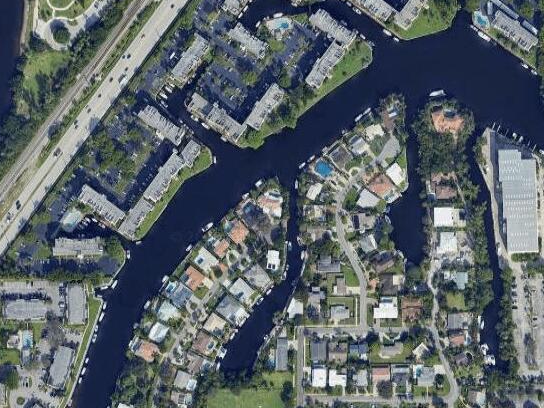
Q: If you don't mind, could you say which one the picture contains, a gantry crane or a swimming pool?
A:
swimming pool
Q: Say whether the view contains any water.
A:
Yes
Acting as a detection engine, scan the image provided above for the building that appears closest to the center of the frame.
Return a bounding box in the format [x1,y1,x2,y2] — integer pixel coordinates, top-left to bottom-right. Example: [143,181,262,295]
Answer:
[258,193,286,216]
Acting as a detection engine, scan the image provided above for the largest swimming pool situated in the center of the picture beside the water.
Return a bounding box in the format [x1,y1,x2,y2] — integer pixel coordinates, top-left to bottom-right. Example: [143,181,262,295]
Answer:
[304,154,340,184]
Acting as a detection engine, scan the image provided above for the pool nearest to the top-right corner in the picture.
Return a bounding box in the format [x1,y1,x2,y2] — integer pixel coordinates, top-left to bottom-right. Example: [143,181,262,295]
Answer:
[474,9,489,27]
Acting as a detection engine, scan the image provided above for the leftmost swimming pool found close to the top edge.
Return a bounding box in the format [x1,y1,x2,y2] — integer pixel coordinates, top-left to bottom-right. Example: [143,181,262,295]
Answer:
[269,15,296,33]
